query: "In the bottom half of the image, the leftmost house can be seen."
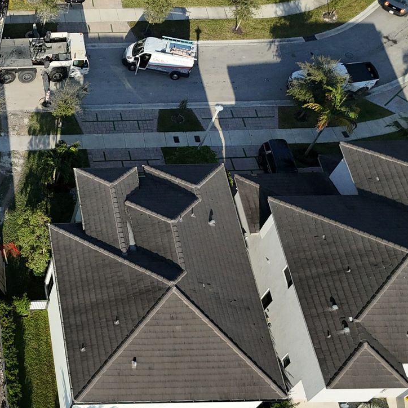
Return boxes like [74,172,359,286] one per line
[45,162,288,408]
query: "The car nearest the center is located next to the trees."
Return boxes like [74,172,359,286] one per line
[253,130,309,173]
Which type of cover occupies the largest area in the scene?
buildings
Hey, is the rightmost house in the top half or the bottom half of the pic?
bottom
